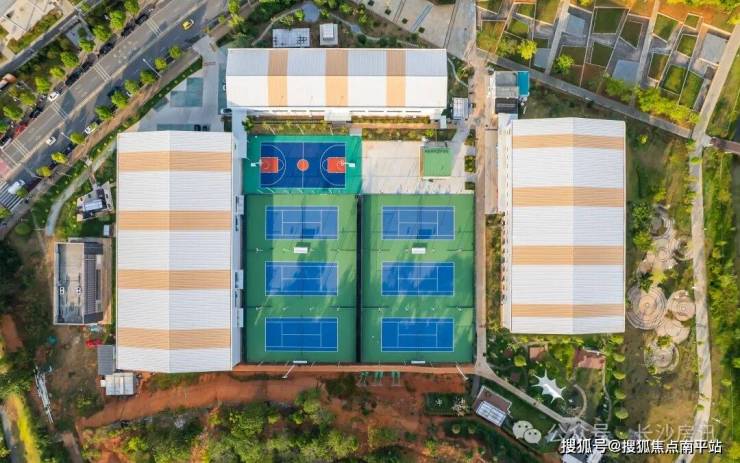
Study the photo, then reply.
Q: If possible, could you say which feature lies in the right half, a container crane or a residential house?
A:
residential house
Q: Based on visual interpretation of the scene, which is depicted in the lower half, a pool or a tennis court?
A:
tennis court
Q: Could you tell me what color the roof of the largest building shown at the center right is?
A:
white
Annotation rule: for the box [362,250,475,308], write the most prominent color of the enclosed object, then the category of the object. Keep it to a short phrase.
green tennis court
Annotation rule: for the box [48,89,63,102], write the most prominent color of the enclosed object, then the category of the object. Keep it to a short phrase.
white vehicle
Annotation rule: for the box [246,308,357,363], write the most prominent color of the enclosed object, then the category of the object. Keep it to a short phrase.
green tennis court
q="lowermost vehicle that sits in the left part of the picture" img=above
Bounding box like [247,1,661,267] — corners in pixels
[7,178,25,192]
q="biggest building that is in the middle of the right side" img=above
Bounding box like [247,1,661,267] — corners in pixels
[493,109,626,336]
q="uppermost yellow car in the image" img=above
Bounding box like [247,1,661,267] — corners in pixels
[180,19,194,32]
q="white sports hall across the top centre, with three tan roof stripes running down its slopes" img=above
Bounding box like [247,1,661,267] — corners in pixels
[225,48,447,122]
